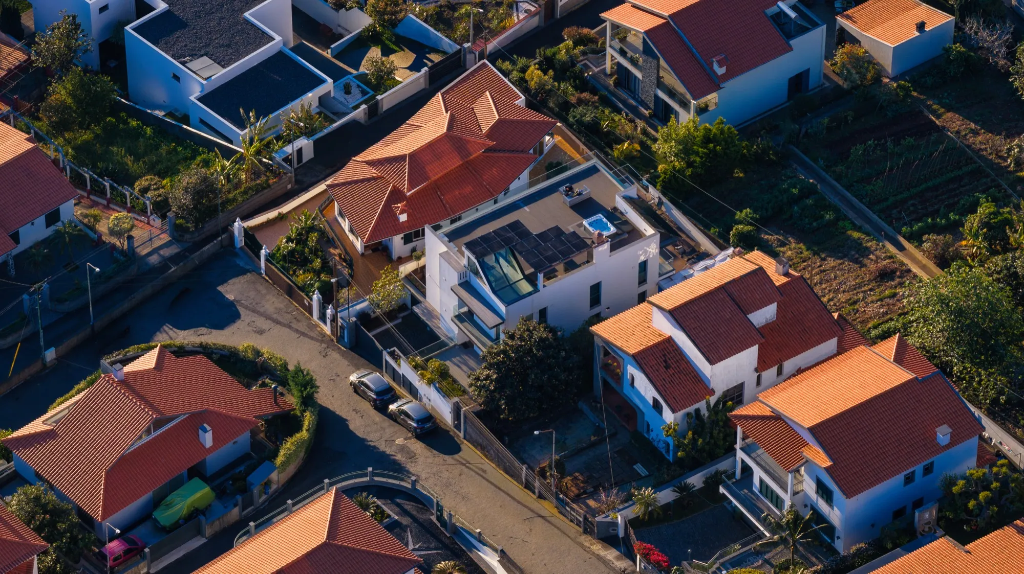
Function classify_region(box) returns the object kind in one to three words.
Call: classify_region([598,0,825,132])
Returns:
house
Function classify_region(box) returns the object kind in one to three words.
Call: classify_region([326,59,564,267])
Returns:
house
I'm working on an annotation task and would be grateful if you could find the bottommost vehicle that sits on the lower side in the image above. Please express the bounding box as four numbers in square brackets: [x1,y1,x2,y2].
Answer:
[101,535,146,567]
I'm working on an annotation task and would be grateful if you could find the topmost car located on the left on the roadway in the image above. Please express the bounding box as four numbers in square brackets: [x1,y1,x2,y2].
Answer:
[350,371,395,408]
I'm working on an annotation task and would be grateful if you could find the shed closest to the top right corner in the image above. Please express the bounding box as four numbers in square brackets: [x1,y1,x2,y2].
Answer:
[836,0,955,76]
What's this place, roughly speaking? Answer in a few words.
residential area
